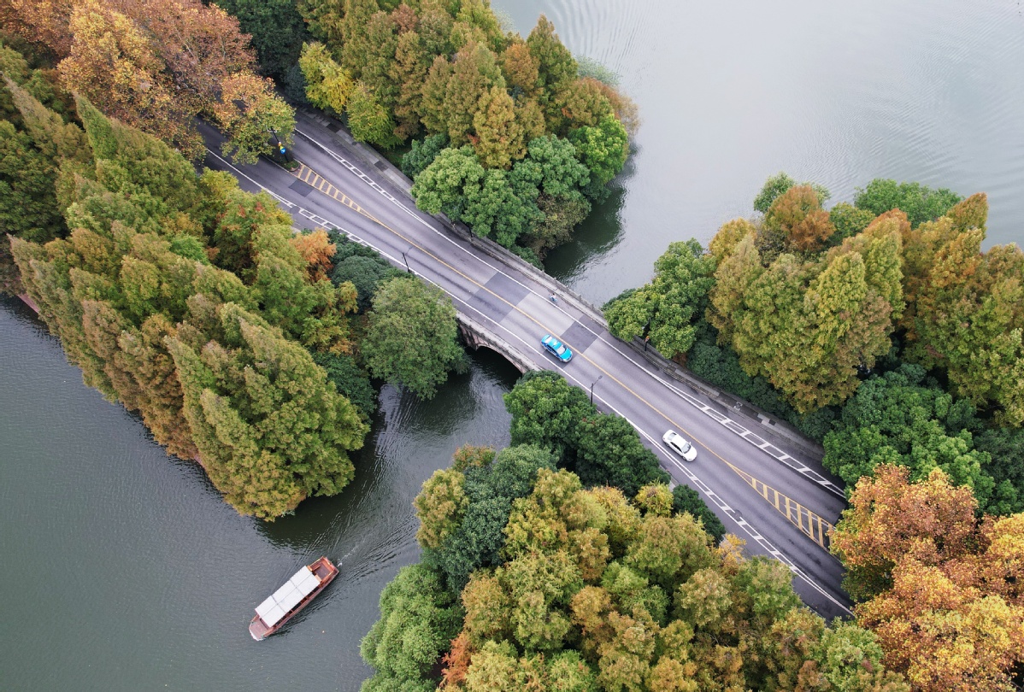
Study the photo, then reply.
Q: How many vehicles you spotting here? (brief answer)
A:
2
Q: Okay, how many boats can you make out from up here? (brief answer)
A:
1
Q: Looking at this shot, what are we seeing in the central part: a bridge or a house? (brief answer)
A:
bridge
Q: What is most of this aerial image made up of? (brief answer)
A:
trees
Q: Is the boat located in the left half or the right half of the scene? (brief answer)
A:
left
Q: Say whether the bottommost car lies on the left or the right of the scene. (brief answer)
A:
right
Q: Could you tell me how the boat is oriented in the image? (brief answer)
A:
at an angle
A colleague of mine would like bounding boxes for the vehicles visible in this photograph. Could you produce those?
[659,426,699,463]
[538,333,573,363]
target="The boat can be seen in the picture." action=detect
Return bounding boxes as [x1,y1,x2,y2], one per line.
[248,556,340,642]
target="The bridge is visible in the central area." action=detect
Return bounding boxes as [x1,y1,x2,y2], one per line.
[430,203,648,392]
